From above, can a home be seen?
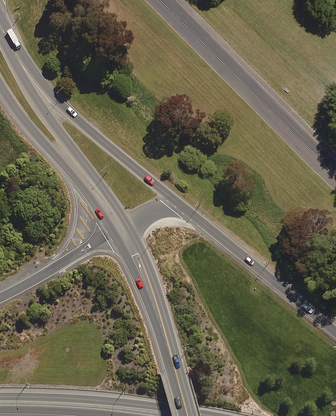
No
